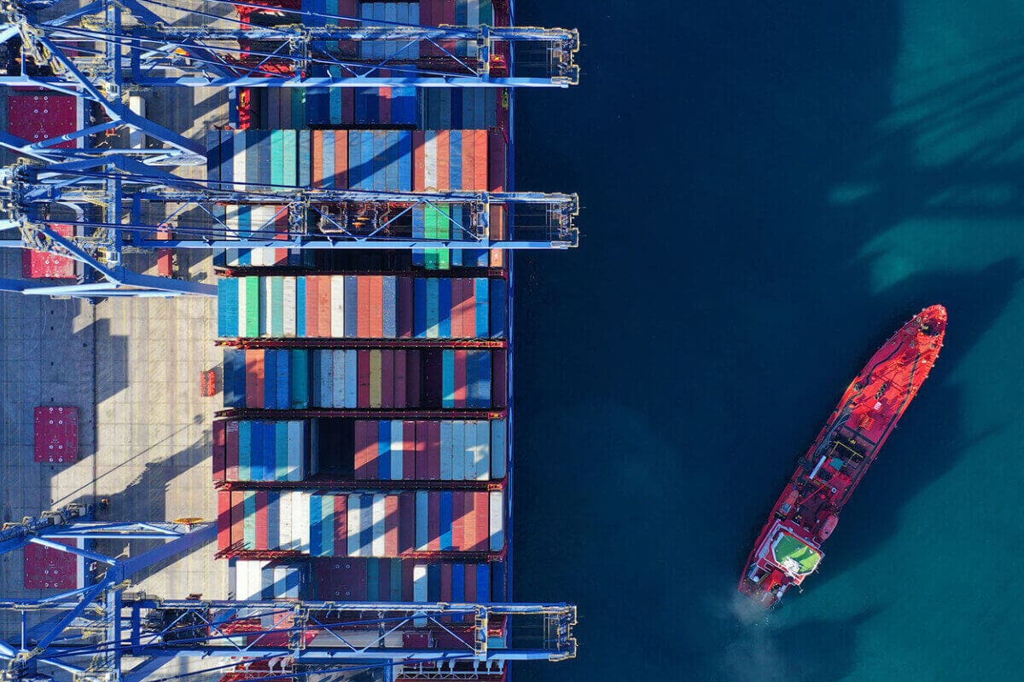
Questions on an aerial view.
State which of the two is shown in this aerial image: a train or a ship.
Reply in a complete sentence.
This aerial view contains a ship.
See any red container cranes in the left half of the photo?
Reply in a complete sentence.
No, I see no red container crane in the left half of the photo.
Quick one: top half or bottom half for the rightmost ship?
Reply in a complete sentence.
The rightmost ship sits in the bottom half of the picture.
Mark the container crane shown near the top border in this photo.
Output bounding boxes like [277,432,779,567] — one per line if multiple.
[0,0,583,181]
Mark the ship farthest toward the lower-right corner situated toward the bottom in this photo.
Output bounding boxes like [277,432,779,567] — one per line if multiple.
[739,306,943,606]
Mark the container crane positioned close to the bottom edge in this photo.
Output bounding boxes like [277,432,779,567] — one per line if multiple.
[0,501,586,682]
